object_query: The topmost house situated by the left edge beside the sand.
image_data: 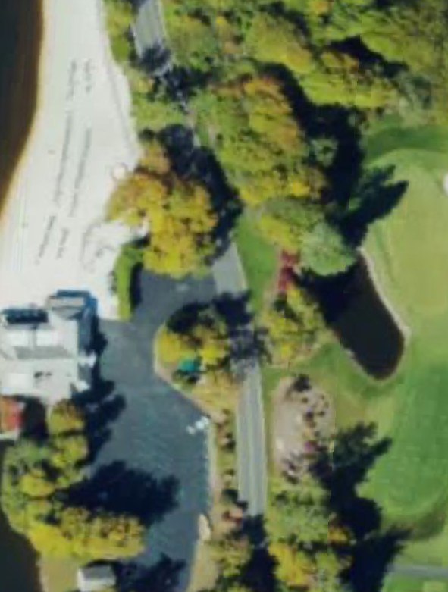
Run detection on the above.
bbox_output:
[0,290,96,403]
